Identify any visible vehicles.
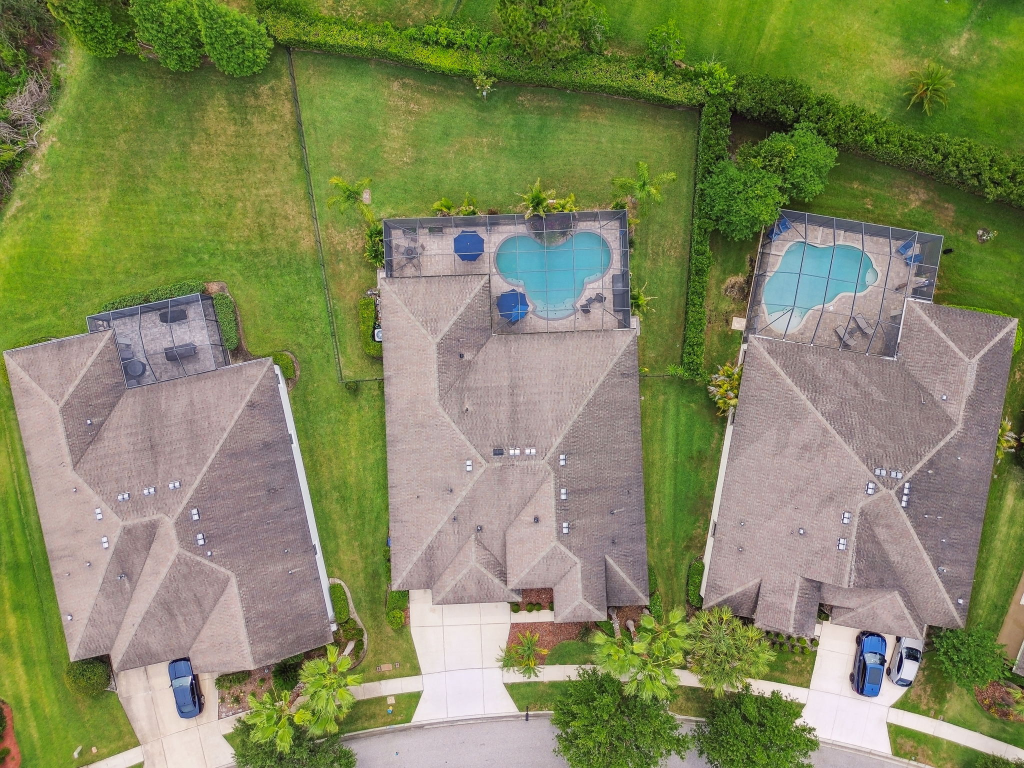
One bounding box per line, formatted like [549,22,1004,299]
[168,657,209,721]
[848,628,889,697]
[889,625,931,688]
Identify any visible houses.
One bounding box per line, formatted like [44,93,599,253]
[992,578,1024,675]
[698,298,1018,639]
[379,273,649,623]
[4,327,337,673]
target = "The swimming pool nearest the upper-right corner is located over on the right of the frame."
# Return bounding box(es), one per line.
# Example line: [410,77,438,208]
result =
[761,237,883,335]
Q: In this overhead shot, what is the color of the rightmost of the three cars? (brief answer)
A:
white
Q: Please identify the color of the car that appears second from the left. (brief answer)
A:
blue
